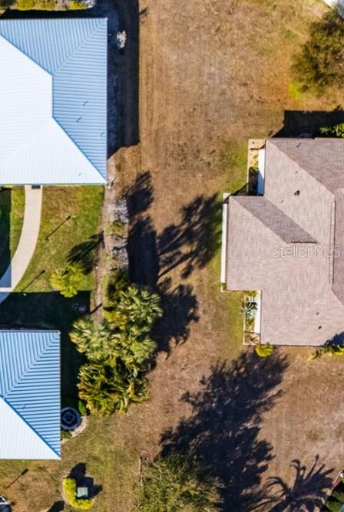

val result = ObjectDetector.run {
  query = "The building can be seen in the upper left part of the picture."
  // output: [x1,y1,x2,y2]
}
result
[0,17,108,185]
